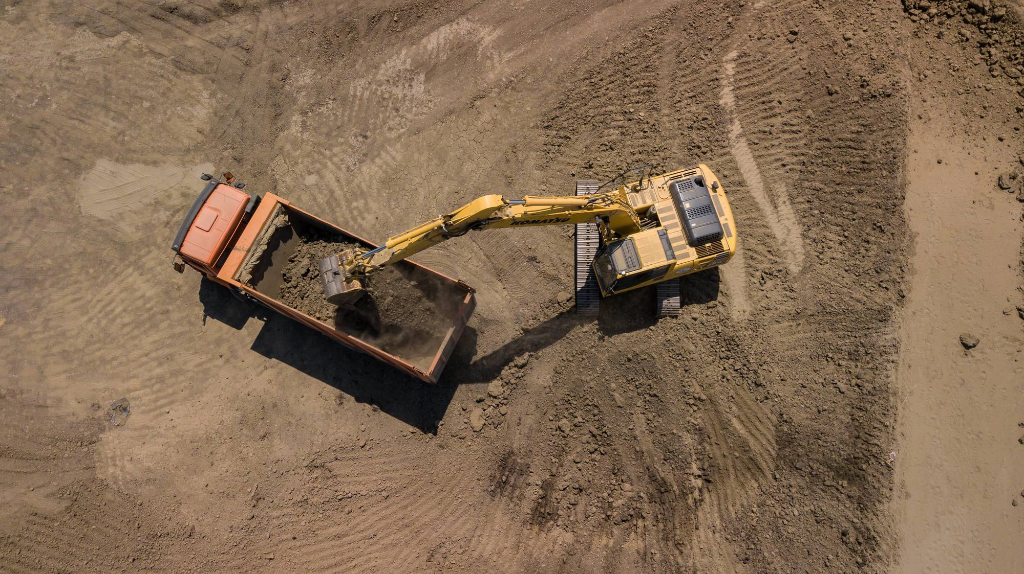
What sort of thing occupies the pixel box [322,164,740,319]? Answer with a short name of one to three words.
work vehicle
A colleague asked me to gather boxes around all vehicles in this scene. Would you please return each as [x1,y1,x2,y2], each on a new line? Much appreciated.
[322,164,740,319]
[169,172,477,384]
